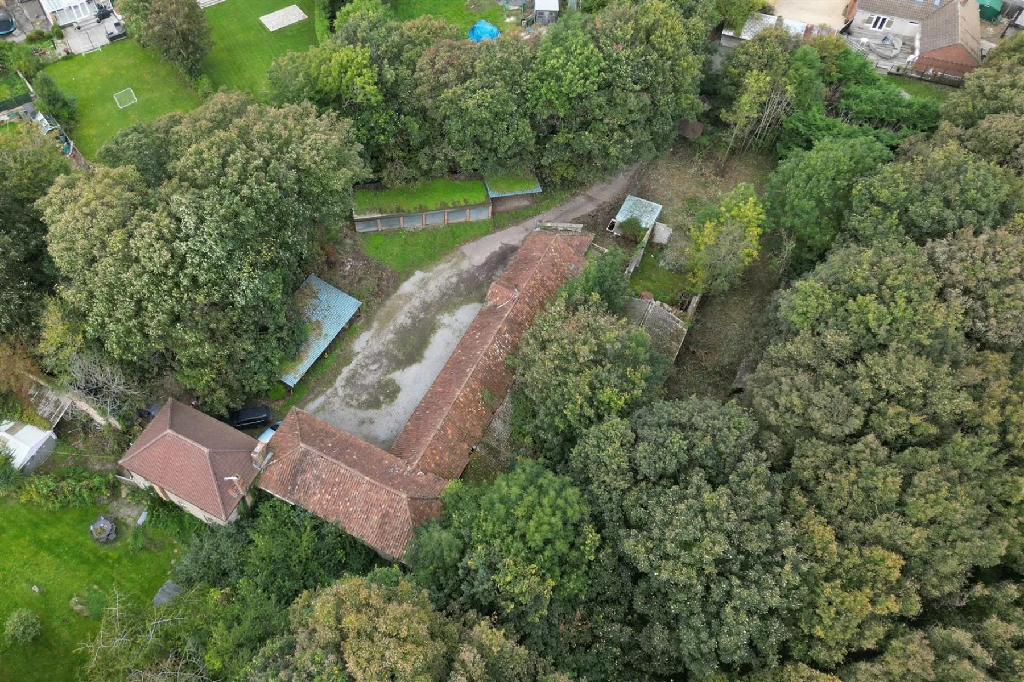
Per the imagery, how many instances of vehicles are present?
2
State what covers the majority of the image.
trees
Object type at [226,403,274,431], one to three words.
car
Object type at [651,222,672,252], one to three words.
shed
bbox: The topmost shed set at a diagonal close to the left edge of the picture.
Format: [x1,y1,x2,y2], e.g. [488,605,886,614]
[22,0,51,31]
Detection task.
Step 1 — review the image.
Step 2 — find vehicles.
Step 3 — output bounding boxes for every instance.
[254,419,286,447]
[226,403,274,431]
